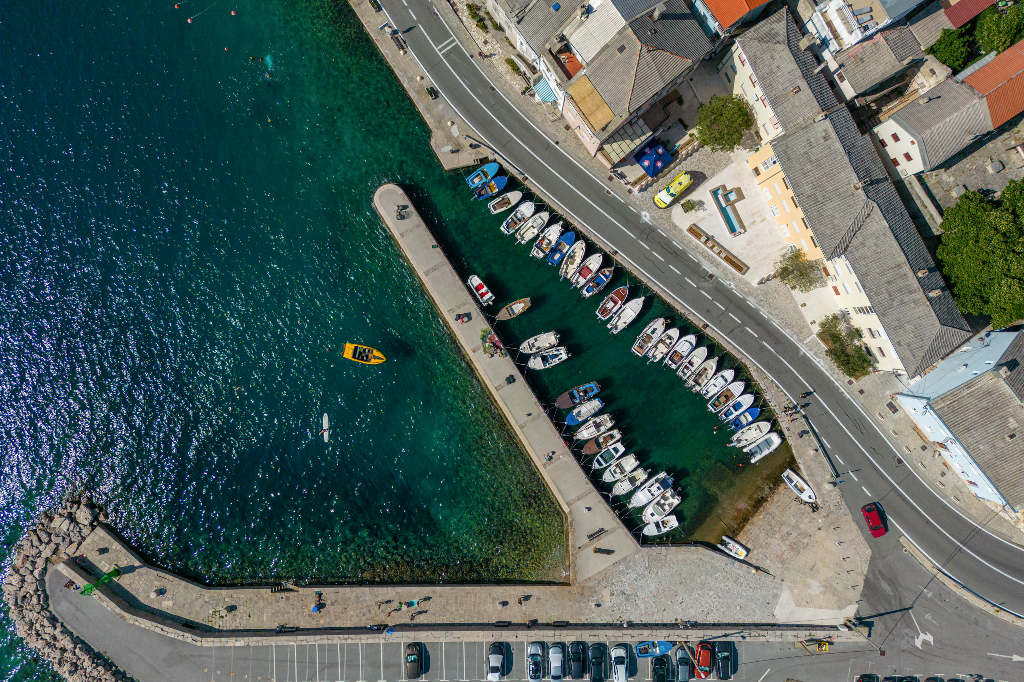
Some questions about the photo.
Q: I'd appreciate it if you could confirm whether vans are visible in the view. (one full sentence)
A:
Yes, looking at the shot, I can spot a van.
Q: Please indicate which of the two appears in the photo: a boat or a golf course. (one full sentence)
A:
Looking from above, you can make out a boat.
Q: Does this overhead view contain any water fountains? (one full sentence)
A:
Yes, there's a water fountain down there.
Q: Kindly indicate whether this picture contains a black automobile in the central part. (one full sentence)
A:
No, in the central part there is no black automobile.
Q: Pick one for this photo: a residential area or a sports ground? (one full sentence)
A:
This looks like a residential area.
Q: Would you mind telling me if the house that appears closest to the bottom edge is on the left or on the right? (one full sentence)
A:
The house that appears closest to the bottom edge appears in the right half of the scene.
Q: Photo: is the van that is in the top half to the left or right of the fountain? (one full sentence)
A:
The van that is in the top half can be seen on the left of the fountain.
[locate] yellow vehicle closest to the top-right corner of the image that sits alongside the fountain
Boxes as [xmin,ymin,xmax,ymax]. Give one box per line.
[654,166,696,211]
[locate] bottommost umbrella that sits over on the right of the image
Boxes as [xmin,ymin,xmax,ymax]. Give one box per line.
[633,138,673,177]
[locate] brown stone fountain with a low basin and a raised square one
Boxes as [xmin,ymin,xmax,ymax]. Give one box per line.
[708,185,745,237]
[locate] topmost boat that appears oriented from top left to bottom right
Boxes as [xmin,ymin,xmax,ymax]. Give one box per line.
[468,274,497,309]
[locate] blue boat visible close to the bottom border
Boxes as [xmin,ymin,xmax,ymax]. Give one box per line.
[634,641,673,660]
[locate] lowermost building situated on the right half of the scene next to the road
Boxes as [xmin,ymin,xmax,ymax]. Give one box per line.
[902,330,1024,516]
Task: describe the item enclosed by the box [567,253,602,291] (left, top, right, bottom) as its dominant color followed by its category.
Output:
white boat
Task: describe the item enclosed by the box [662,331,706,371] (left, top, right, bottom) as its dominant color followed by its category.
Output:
white boat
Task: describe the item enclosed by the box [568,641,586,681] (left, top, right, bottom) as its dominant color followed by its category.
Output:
black car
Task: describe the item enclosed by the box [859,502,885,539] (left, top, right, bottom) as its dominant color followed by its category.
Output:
red car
